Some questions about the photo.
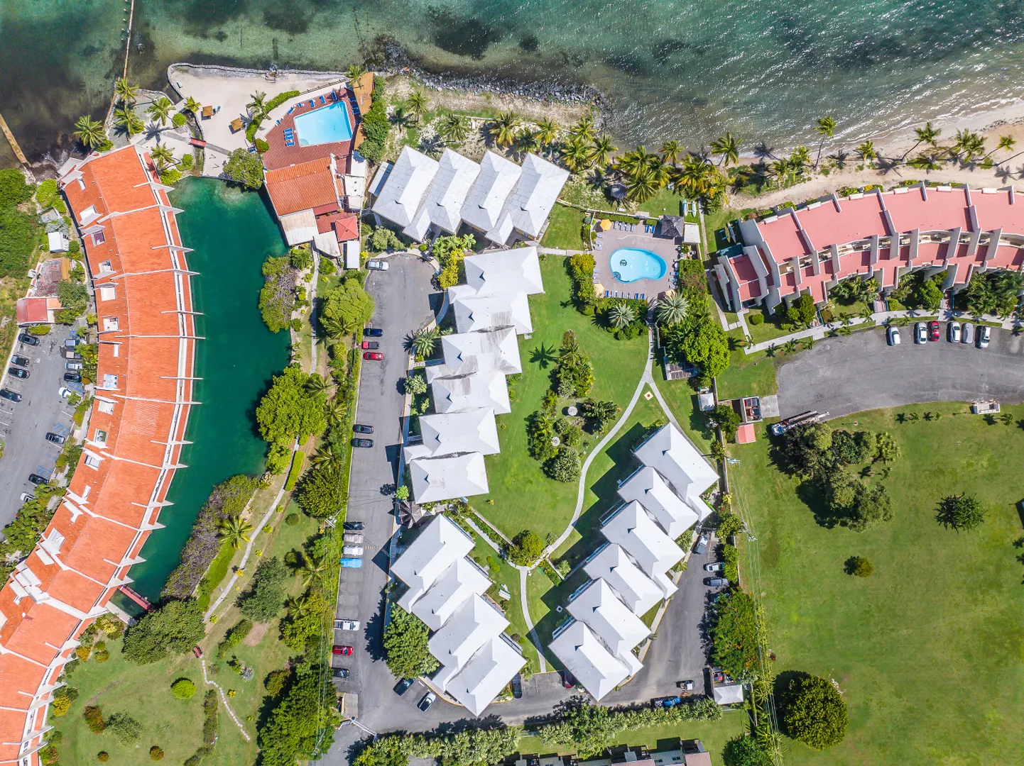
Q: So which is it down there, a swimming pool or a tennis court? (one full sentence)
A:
The image shows a swimming pool.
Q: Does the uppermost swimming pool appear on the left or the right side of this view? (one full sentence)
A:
You can find the uppermost swimming pool on the left side of the picture.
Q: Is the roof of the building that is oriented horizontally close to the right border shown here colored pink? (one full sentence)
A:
Yes, pink is the color of the roof of the building that is oriented horizontally close to the right border.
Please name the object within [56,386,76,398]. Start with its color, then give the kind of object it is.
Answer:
white vehicle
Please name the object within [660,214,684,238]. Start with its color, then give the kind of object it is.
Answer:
gray gazebo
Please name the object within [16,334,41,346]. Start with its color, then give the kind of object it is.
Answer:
black vehicle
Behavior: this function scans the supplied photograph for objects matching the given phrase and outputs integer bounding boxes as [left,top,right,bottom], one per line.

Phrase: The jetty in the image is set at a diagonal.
[0,115,33,165]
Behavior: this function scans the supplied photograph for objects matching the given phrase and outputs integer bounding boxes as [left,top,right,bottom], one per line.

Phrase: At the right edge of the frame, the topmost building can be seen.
[714,180,1024,320]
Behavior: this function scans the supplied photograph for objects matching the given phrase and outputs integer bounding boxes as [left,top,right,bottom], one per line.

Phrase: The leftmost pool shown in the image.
[252,76,360,177]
